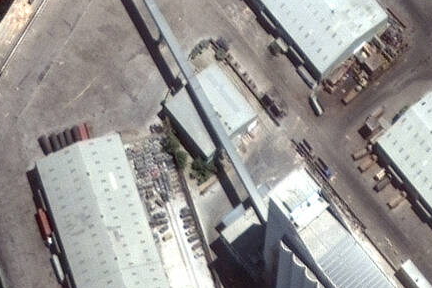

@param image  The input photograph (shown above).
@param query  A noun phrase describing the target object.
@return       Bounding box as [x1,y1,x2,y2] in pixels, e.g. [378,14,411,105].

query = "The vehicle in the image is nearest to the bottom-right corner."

[386,190,408,209]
